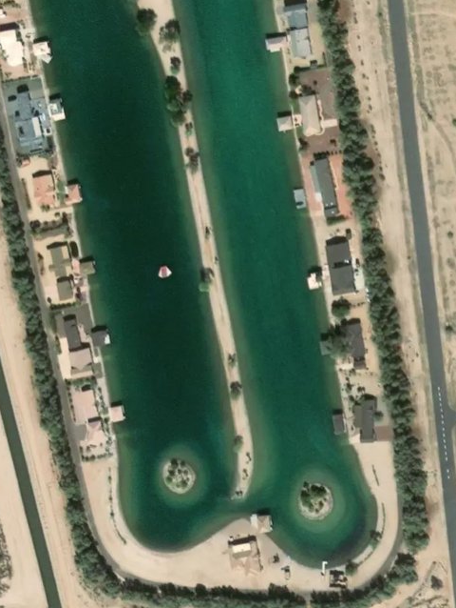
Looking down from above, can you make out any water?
Yes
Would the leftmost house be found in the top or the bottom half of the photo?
top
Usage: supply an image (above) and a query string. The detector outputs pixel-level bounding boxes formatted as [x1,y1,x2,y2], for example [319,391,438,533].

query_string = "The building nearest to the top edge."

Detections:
[285,1,309,30]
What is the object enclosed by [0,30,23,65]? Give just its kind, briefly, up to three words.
house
